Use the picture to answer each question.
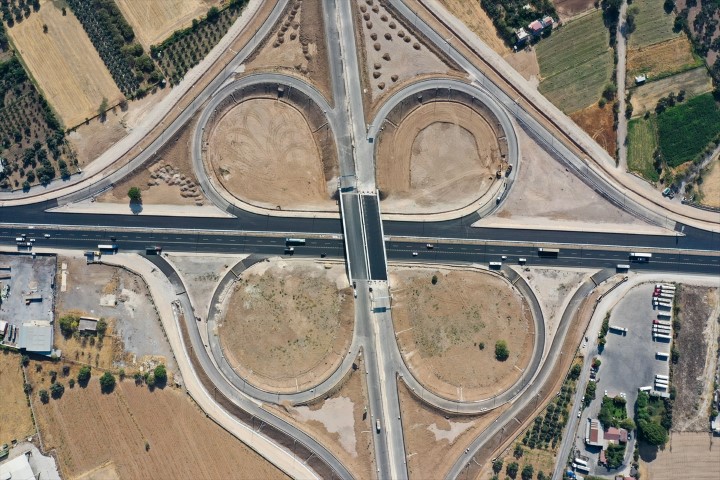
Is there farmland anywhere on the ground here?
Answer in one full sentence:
Yes, there is farmland in the image.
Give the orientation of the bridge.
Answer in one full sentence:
The bridge has been laid out from top to bottom relative to the frame.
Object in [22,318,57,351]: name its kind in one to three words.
building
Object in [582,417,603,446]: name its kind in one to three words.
building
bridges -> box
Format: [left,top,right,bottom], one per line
[340,188,388,288]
